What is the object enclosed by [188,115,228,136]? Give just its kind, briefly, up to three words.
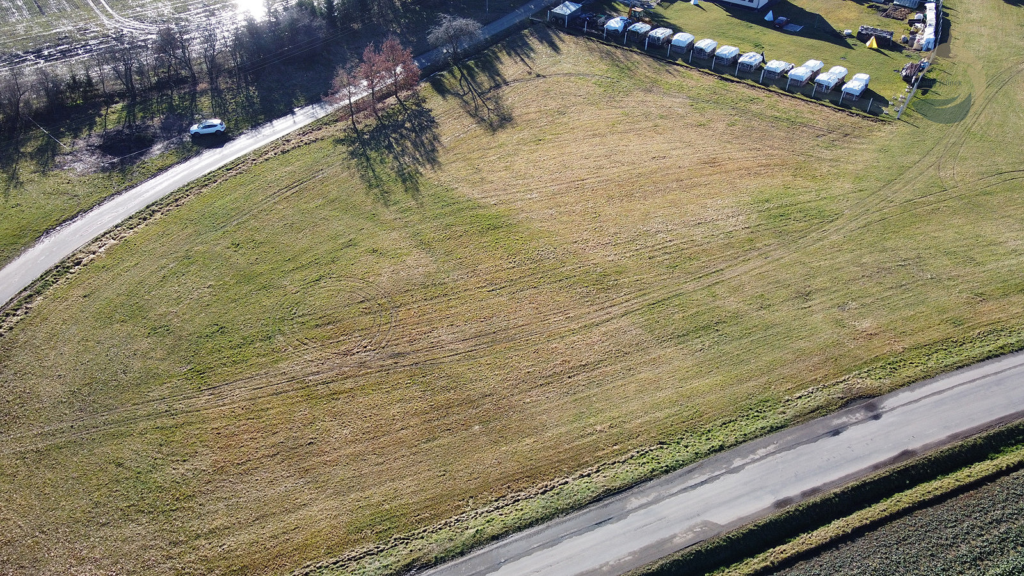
car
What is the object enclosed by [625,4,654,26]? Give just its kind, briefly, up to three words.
work vehicle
